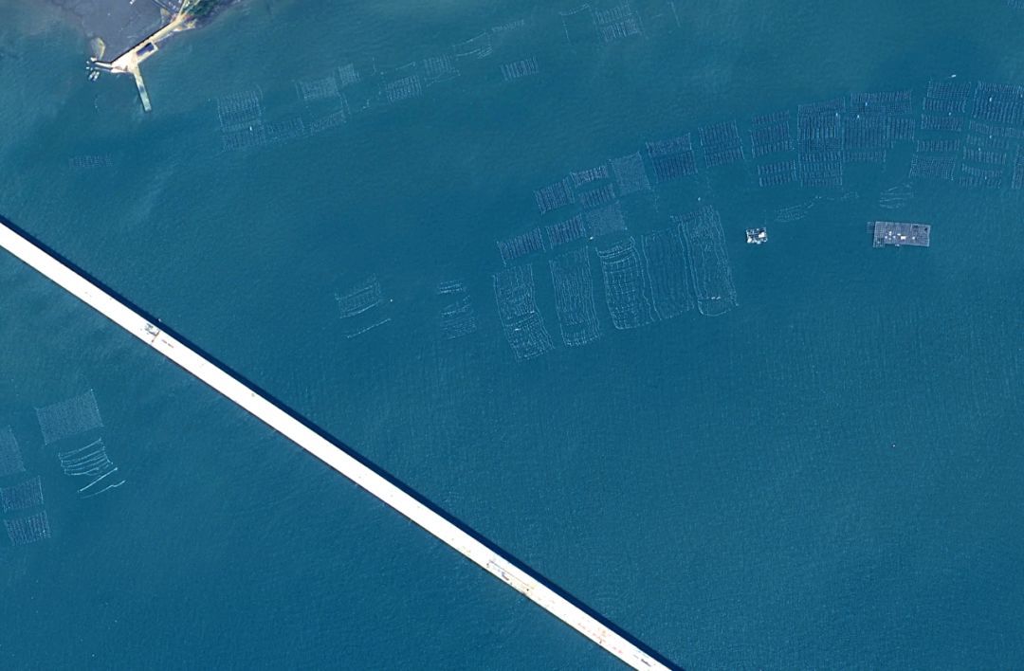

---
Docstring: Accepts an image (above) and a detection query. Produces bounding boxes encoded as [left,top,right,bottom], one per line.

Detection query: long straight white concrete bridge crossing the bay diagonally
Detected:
[0,222,671,671]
